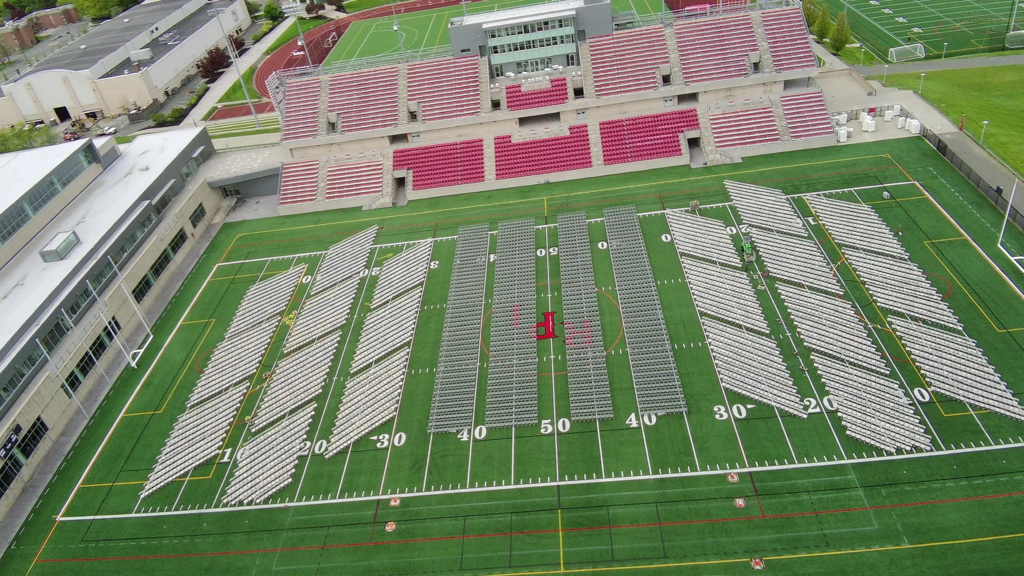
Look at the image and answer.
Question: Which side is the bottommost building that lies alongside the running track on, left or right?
left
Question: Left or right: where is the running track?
left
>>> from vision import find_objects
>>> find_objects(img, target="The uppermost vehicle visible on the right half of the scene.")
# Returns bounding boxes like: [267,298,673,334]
[741,232,757,260]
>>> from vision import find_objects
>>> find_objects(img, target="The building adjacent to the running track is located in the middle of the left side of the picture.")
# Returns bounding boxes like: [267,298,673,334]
[0,125,220,517]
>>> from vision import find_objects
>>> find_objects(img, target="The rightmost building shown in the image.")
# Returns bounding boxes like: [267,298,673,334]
[448,0,614,77]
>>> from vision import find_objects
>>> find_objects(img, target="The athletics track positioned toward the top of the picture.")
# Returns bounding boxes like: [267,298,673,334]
[256,0,452,91]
